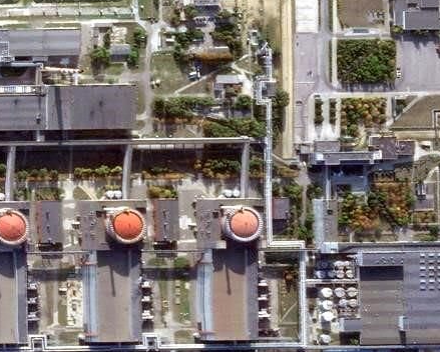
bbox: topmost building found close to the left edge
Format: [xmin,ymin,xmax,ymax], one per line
[0,30,82,57]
